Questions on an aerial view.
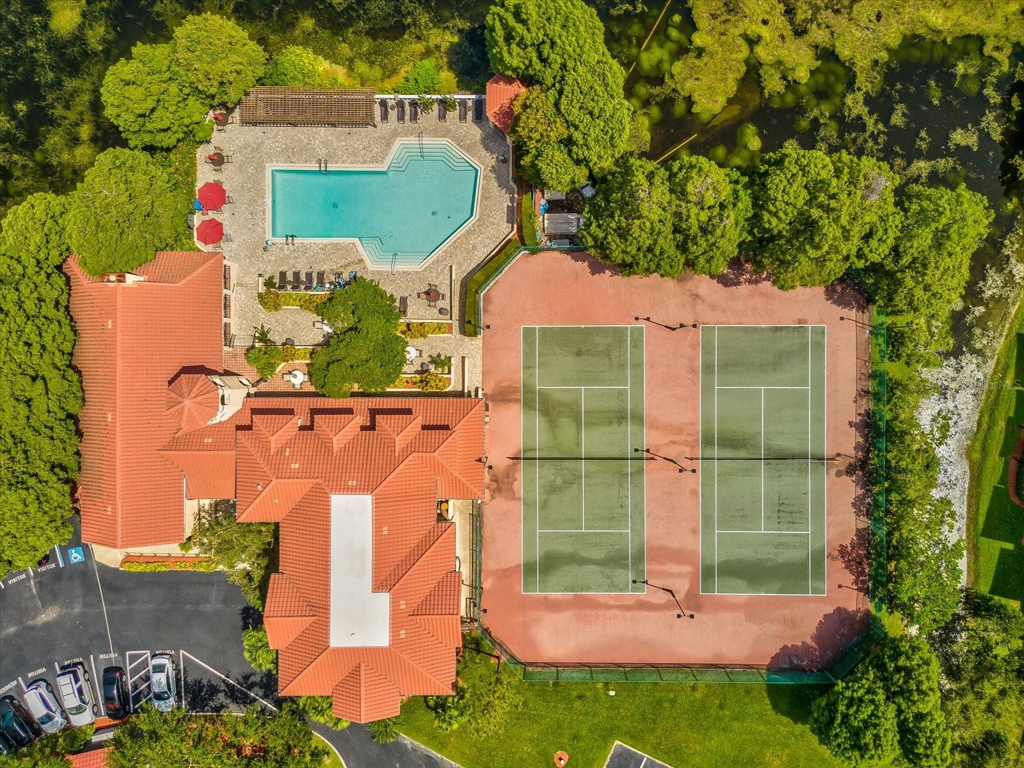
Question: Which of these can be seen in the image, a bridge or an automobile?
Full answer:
Visible in the photo is an automobile.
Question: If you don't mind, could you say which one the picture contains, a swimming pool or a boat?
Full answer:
This aerial view contains a swimming pool.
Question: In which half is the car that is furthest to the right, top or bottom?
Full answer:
The car that is furthest to the right is in the bottom half of the image.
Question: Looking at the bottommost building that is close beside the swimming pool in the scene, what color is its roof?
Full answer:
The roof of the bottommost building that is close beside the swimming pool is orange.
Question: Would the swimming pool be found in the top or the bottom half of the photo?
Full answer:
The top half of the photo is where the swimming pool is.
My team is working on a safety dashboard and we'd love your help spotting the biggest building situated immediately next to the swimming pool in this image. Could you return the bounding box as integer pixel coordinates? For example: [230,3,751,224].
[58,250,486,724]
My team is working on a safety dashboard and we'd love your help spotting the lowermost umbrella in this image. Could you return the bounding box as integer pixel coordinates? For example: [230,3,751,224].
[196,218,223,245]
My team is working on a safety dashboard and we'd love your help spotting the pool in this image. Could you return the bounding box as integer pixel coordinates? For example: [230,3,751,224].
[265,137,483,270]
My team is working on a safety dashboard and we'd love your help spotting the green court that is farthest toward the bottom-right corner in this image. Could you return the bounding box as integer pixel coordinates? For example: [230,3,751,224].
[693,325,842,595]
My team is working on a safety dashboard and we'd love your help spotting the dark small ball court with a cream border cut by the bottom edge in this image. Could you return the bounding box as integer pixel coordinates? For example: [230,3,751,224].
[602,742,675,768]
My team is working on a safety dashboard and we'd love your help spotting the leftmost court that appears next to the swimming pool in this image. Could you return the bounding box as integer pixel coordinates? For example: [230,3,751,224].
[513,325,656,594]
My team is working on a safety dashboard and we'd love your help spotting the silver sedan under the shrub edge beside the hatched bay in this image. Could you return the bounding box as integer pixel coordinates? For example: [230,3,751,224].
[149,655,178,710]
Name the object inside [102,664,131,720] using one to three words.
car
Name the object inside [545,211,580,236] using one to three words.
shed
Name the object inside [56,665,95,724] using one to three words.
car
